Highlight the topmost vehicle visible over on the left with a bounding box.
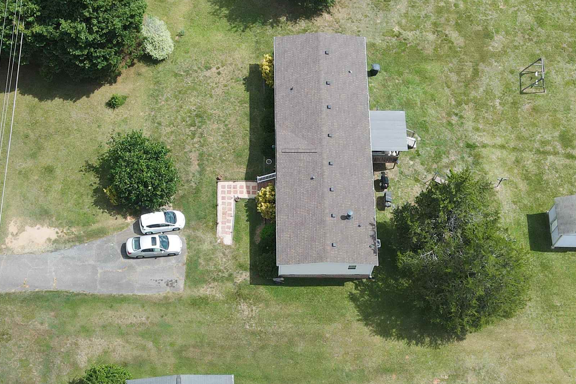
[139,203,186,232]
